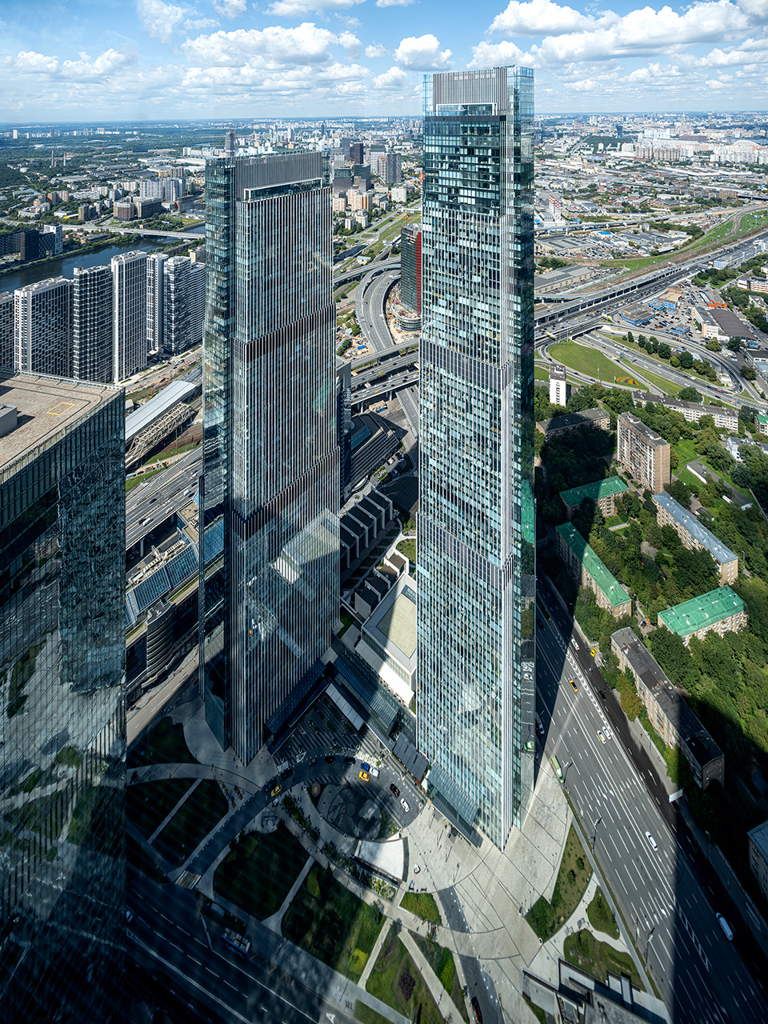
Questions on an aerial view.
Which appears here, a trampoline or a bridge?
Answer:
bridge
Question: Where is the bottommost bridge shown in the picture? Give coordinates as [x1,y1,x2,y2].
[124,401,209,473]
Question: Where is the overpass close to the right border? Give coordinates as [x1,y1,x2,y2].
[535,203,768,259]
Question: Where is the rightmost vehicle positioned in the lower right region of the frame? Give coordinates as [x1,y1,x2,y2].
[715,910,732,938]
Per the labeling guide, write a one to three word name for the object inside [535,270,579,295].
building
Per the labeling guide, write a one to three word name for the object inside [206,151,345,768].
building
